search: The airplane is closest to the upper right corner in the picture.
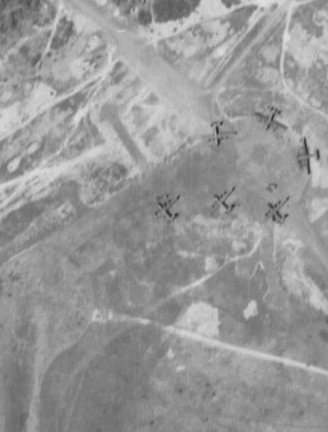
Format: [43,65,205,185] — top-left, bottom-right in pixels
[254,109,286,131]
